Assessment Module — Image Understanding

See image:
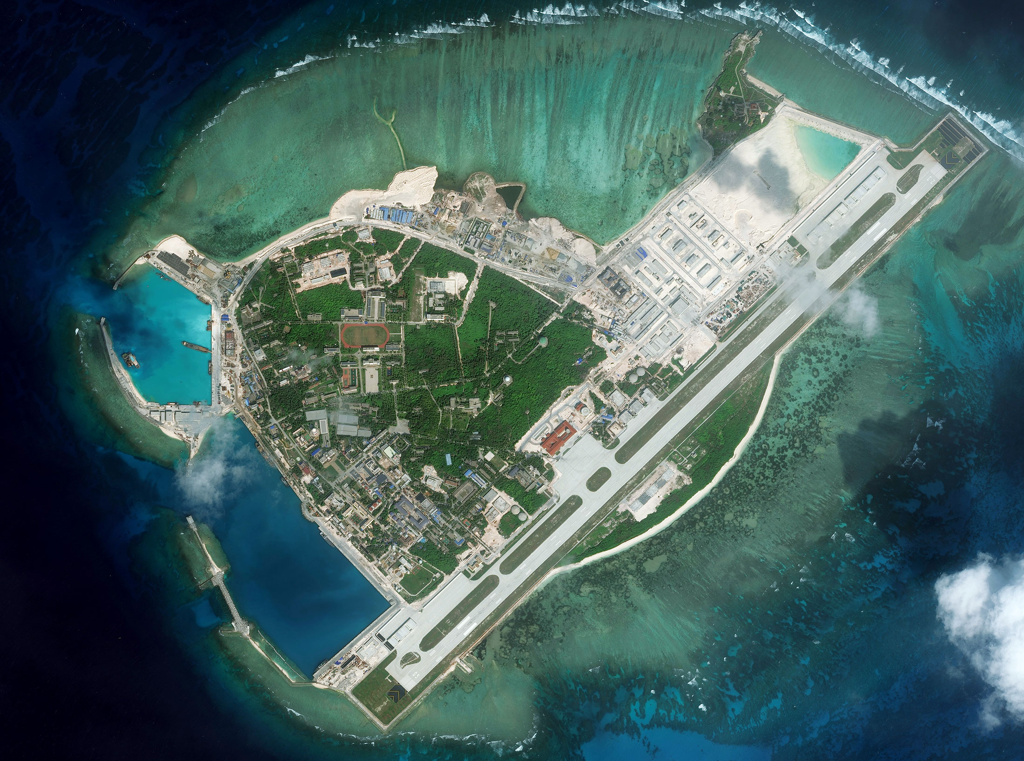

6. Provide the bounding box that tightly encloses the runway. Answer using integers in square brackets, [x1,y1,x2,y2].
[399,162,948,692]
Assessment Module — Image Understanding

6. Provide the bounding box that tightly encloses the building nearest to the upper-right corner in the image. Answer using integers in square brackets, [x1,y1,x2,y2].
[845,166,886,207]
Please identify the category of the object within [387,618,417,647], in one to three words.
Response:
hangar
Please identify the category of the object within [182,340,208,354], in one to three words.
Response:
ship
